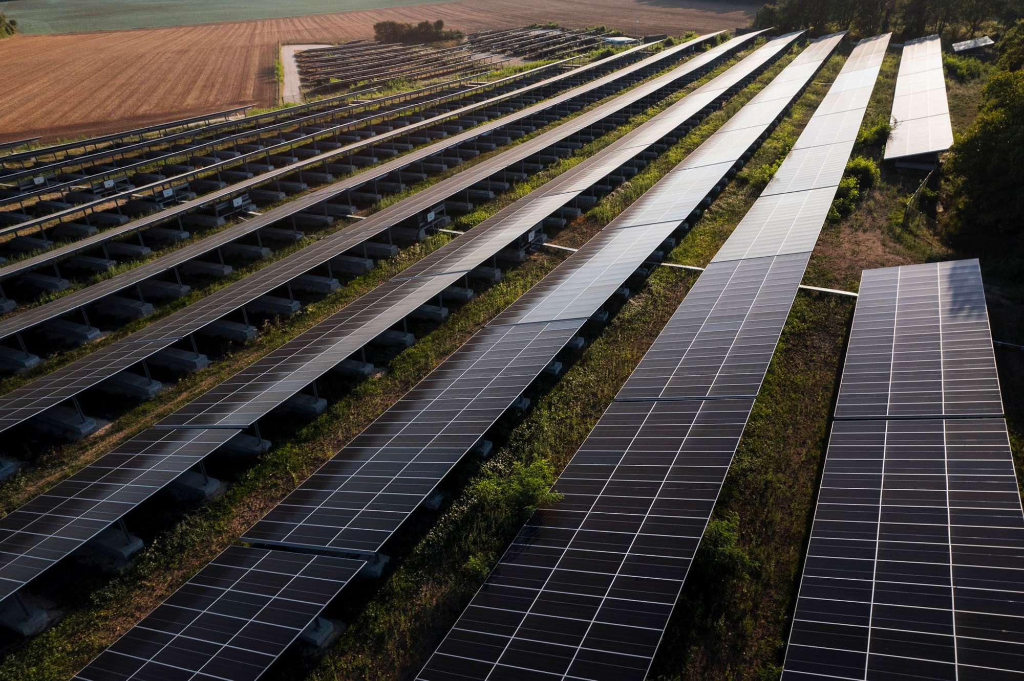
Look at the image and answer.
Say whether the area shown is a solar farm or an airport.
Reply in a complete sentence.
What you see here is a solar farm.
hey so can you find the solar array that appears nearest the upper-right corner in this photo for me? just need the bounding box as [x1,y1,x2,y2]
[956,40,996,57]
